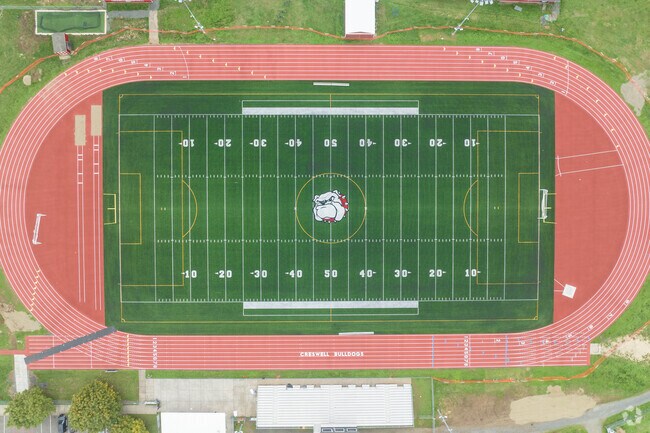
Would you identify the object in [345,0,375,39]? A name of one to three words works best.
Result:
building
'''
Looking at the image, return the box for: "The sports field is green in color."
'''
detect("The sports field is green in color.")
[102,81,555,336]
